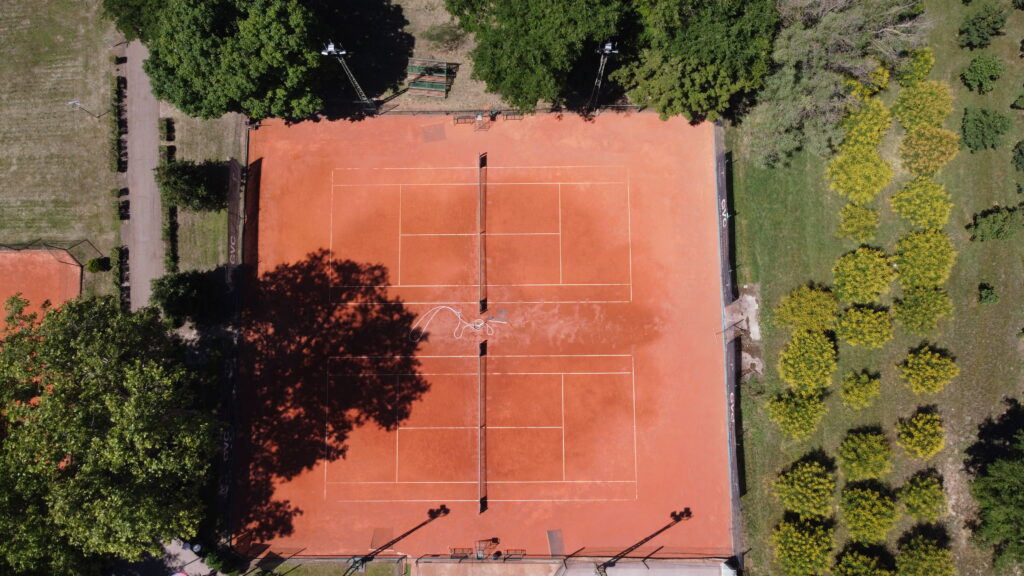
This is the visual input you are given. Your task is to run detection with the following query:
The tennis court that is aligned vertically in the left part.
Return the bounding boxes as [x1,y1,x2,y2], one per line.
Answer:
[0,249,81,567]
